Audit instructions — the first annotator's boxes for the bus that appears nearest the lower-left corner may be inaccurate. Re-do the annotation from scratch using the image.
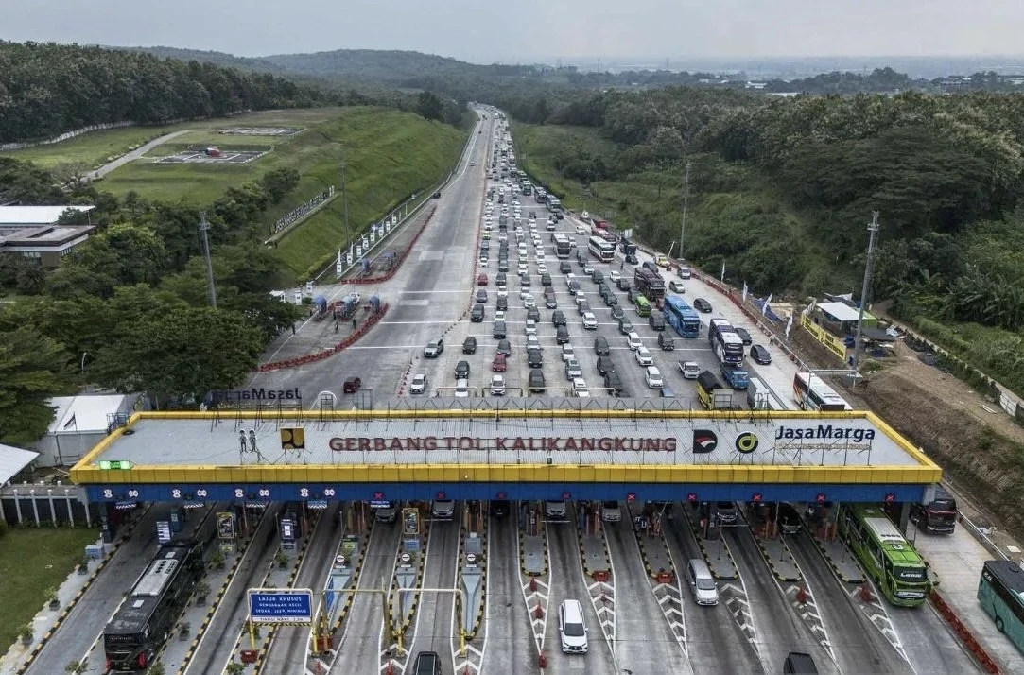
[89,527,202,664]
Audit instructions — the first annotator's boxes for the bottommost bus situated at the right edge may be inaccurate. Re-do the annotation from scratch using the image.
[979,561,1024,646]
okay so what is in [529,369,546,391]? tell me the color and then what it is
gray car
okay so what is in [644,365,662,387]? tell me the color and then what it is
white car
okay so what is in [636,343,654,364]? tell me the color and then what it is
white car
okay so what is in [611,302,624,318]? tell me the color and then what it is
gray vehicle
